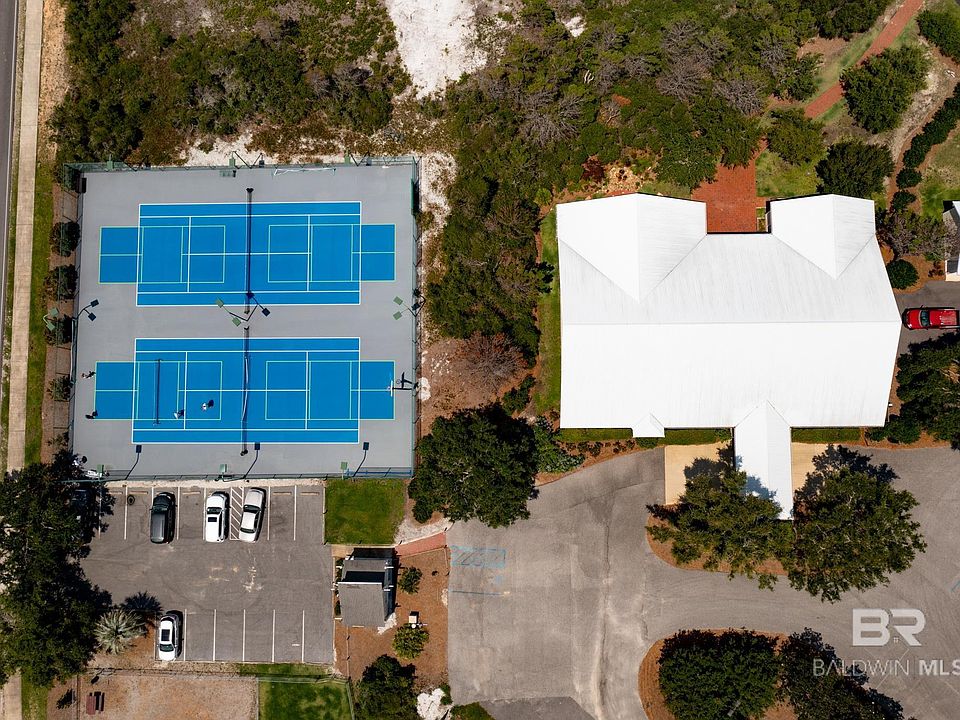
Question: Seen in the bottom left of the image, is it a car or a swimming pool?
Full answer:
There is a car in the bottom left of the image.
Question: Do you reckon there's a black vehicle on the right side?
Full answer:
No, the scene shows no black vehicle on the right side.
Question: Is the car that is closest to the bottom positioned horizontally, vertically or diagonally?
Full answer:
The car that is closest to the bottom is oriented vertically.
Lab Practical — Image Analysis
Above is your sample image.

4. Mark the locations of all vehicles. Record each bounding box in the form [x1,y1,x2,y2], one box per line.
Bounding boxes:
[150,493,173,542]
[899,308,959,330]
[157,613,180,659]
[238,489,265,540]
[203,492,228,541]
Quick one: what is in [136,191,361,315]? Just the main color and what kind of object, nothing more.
blue tennis court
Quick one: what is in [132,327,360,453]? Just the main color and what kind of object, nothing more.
blue tennis court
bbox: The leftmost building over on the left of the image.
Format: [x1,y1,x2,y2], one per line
[331,557,398,631]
